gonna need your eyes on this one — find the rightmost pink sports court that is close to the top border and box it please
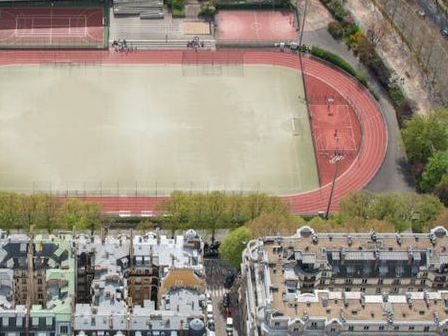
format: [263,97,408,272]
[213,10,299,39]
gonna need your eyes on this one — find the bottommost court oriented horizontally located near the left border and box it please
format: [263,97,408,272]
[1,8,102,42]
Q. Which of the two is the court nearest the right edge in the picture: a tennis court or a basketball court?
basketball court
